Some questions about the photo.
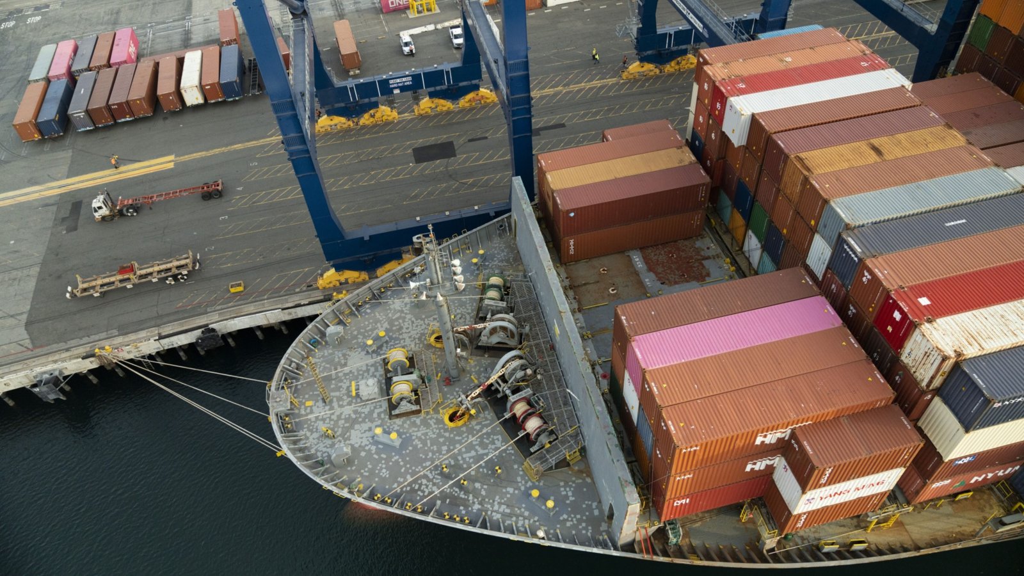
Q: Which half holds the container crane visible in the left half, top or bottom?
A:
top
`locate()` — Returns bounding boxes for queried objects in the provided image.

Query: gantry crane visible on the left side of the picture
[235,0,535,284]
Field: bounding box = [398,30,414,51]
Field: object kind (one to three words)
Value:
car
